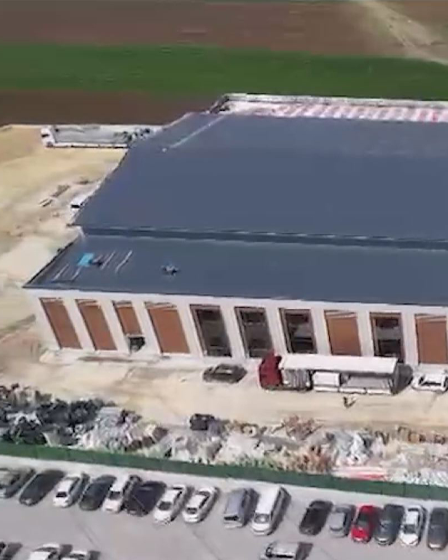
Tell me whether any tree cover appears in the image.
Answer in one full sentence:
No, no tree cover is visible.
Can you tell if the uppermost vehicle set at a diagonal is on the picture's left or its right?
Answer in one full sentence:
It is on the left.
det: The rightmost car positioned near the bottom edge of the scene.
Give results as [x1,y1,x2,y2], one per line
[424,504,448,553]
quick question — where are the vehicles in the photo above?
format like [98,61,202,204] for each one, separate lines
[412,372,448,393]
[375,502,404,548]
[64,193,95,215]
[219,480,263,534]
[326,500,358,542]
[0,461,38,503]
[201,363,247,385]
[424,504,448,553]
[350,502,382,544]
[152,481,193,525]
[16,465,66,508]
[298,497,332,539]
[255,540,309,560]
[100,473,143,516]
[76,474,118,513]
[124,474,169,519]
[248,482,291,537]
[253,344,401,394]
[180,483,220,527]
[49,471,93,509]
[399,502,427,548]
